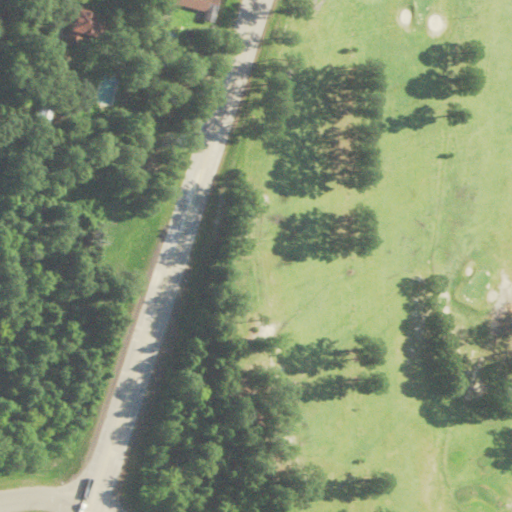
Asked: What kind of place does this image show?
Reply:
golf course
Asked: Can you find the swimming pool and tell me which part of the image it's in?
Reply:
top left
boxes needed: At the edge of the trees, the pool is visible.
[97,76,118,107]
